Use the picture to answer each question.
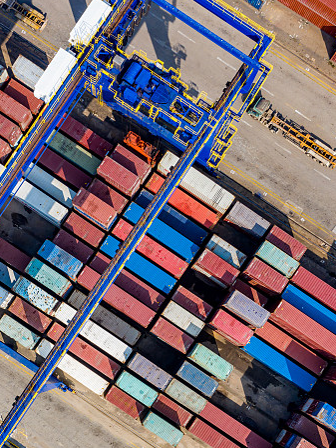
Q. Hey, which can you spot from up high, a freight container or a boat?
freight container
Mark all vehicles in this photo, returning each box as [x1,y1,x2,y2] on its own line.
[249,94,336,169]
[0,0,47,36]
